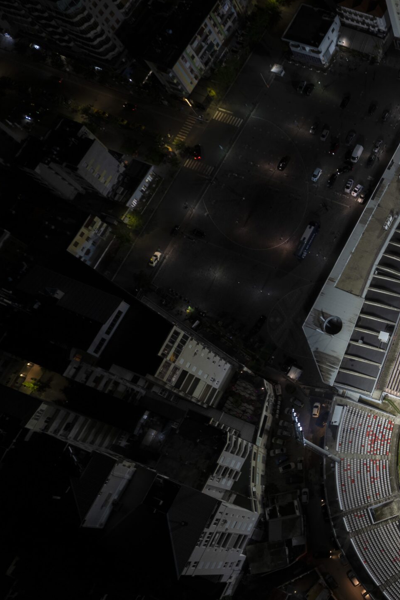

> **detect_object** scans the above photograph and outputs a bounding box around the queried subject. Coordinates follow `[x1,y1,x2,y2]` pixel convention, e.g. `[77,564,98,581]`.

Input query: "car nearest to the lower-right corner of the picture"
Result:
[360,585,374,600]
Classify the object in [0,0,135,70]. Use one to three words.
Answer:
building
